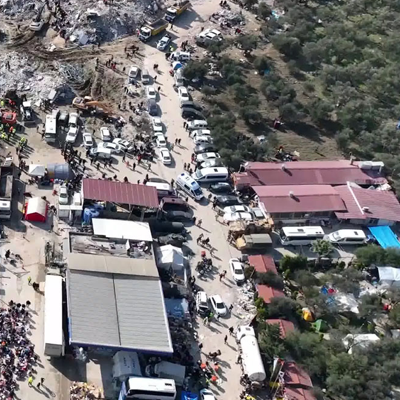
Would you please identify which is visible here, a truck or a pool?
truck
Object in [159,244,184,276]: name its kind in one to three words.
tent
